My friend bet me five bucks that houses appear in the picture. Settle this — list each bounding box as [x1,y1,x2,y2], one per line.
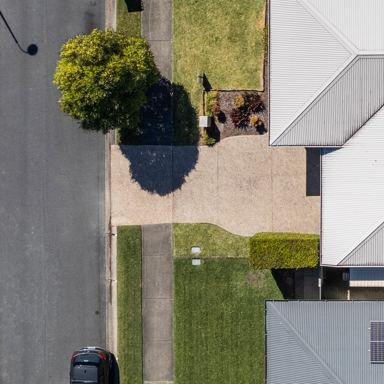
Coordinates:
[266,299,384,384]
[268,0,384,268]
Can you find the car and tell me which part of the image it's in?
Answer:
bottom left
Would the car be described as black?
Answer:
Yes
